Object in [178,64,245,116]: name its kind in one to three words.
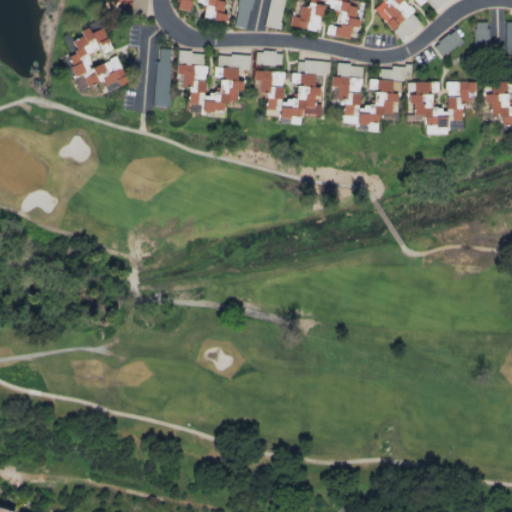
house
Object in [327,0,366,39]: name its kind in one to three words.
house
